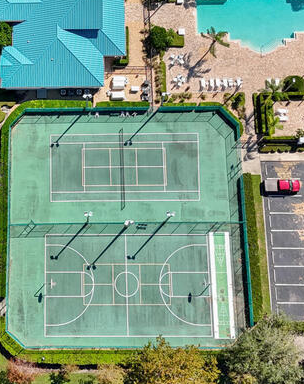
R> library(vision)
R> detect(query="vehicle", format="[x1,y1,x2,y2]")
[263,178,300,193]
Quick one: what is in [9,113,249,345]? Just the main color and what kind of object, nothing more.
green sports court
